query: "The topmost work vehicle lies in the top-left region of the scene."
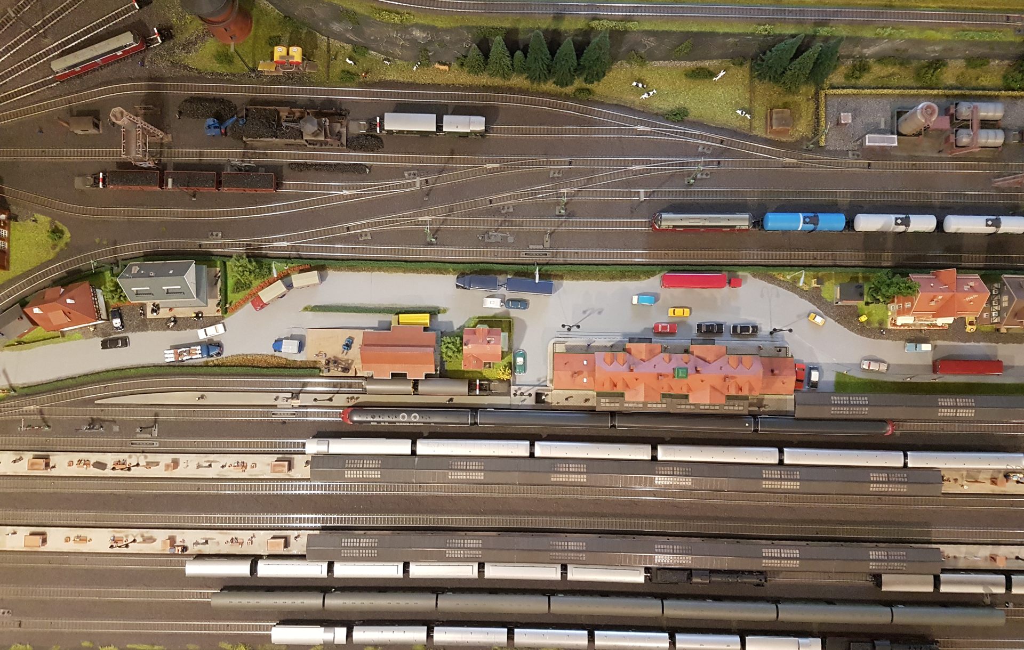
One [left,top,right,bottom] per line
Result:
[204,115,241,136]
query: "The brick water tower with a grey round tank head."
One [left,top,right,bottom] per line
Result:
[179,0,253,48]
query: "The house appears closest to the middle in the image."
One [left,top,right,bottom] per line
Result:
[461,326,510,373]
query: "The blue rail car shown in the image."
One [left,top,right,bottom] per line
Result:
[754,212,845,235]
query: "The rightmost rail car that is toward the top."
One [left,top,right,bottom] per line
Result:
[934,216,1024,238]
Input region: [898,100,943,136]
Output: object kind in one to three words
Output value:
storage tank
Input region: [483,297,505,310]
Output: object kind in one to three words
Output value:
vehicle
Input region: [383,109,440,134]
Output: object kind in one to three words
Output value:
rail car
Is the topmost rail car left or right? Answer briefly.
left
